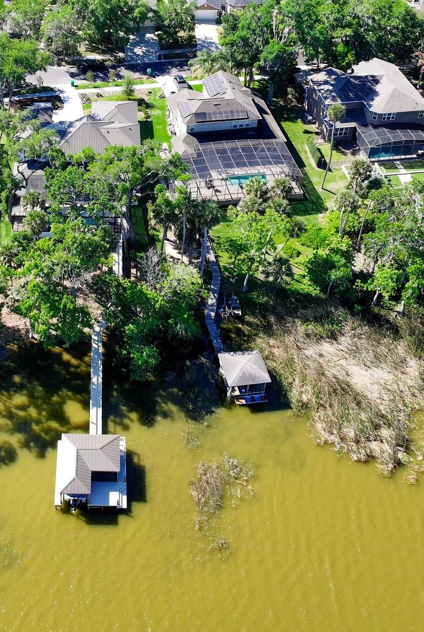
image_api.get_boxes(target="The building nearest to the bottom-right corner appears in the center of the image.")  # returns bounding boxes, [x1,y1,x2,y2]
[216,348,271,404]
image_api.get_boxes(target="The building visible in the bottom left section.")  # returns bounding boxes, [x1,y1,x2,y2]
[54,431,128,511]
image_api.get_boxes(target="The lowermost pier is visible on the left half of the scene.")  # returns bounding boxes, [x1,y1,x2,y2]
[88,323,107,435]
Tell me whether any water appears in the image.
Yes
